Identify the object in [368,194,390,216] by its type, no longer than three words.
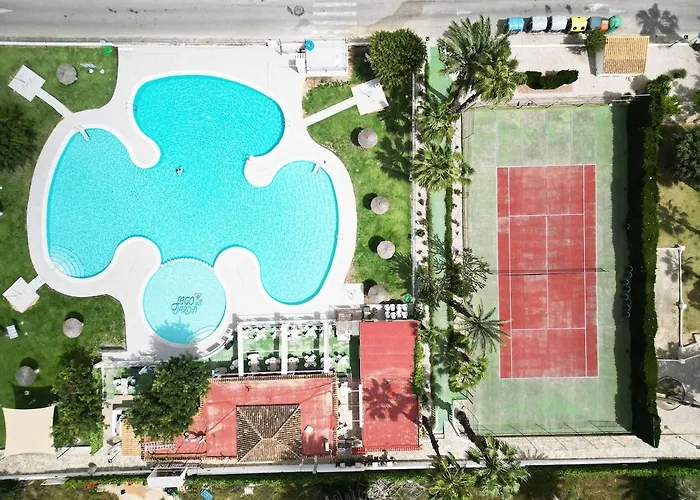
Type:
umbrella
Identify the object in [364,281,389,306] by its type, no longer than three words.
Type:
umbrella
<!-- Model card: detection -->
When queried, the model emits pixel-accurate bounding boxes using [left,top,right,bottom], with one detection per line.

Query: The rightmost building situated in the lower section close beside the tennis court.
[360,319,421,453]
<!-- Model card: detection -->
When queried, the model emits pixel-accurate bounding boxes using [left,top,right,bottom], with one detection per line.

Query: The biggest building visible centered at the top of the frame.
[306,36,349,76]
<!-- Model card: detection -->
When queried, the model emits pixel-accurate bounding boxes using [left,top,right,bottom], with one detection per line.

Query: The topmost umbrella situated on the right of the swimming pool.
[356,129,377,150]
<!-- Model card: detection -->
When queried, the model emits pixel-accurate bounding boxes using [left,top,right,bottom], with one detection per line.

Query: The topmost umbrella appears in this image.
[59,64,83,88]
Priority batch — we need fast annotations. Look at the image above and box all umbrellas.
[375,239,396,261]
[18,363,43,386]
[59,64,83,88]
[364,281,389,306]
[368,194,390,216]
[356,129,377,150]
[65,315,88,338]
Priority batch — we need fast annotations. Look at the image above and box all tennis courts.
[465,101,638,435]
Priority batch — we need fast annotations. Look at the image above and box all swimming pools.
[42,70,342,349]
